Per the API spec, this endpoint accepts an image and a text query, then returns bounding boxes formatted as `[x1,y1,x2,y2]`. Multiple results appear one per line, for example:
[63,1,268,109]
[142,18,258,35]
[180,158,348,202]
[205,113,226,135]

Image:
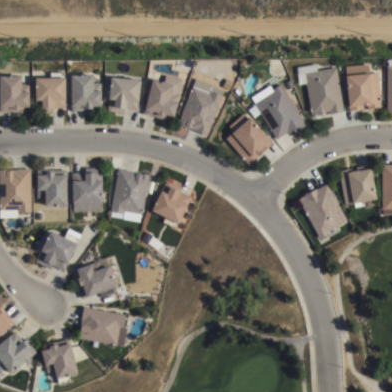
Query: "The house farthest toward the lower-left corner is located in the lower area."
[0,331,34,375]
